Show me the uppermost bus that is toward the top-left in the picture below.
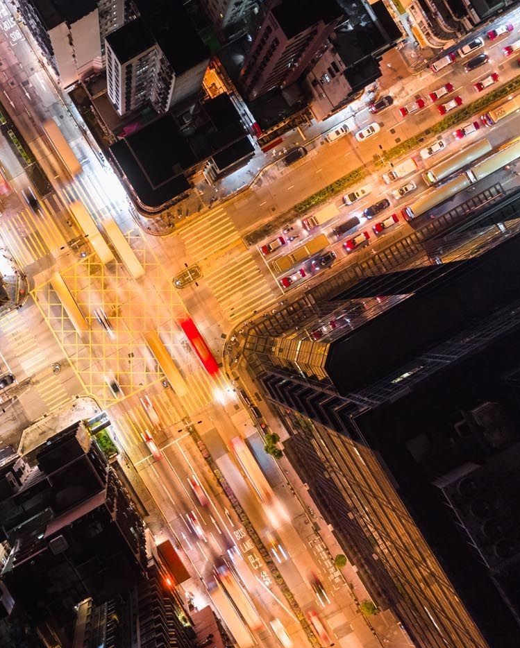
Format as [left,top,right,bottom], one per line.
[40,114,87,184]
